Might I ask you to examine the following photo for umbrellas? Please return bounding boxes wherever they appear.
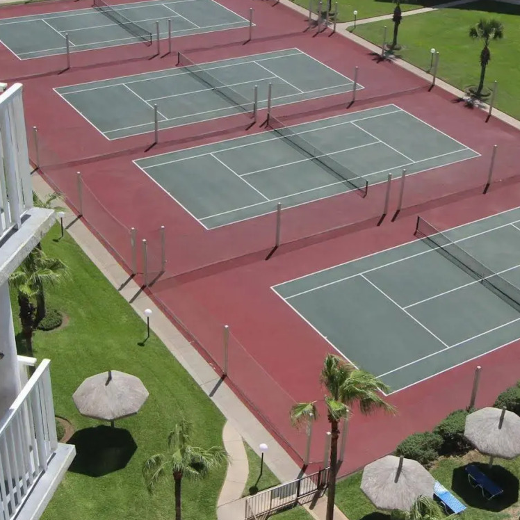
[69,371,147,432]
[459,405,520,466]
[357,453,441,519]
